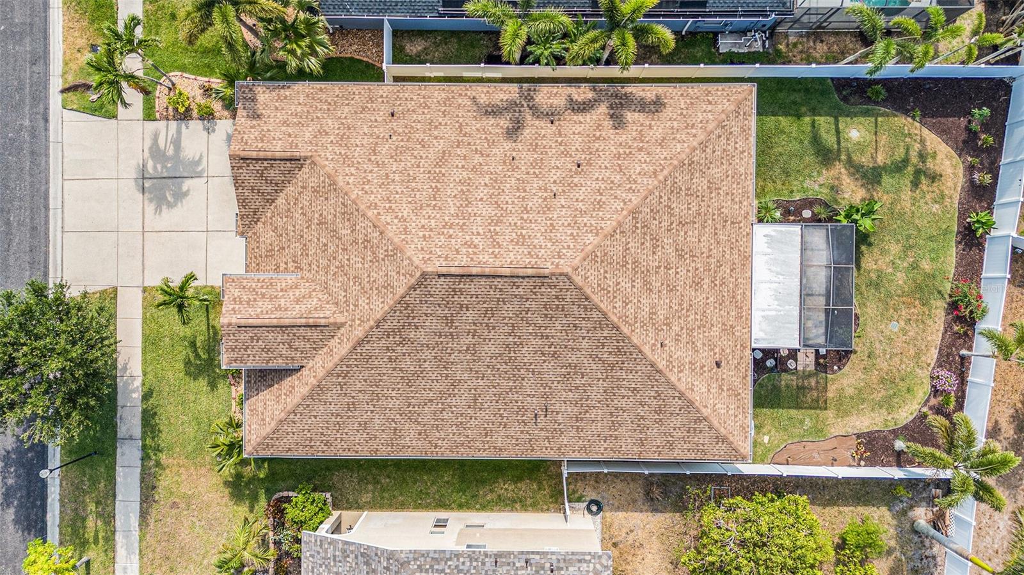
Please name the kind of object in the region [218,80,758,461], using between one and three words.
house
